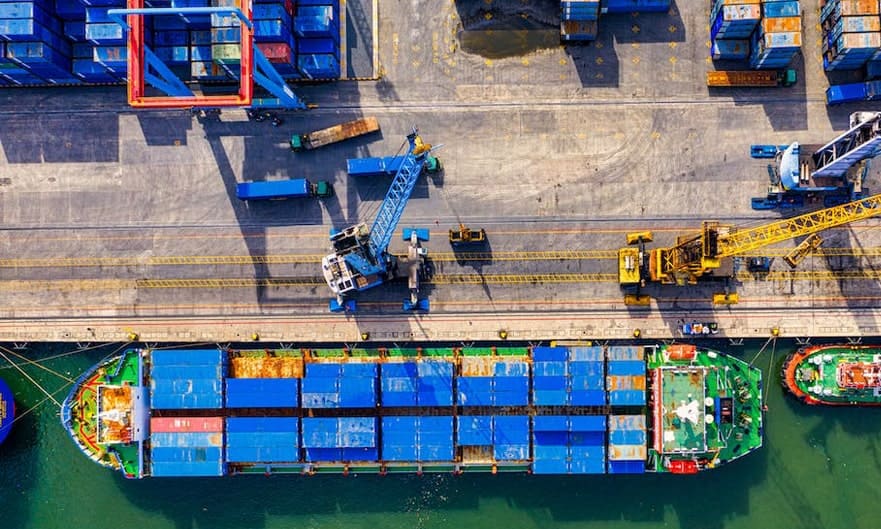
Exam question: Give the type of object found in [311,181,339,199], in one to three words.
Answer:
vehicle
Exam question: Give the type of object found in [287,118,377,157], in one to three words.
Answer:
truck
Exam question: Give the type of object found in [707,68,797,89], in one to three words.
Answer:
vehicle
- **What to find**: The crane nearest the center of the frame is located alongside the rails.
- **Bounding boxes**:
[322,133,468,311]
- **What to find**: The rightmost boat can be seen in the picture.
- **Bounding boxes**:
[777,344,881,407]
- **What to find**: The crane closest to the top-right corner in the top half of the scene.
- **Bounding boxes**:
[751,104,881,210]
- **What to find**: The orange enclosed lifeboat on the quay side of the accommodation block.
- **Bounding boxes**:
[662,345,698,363]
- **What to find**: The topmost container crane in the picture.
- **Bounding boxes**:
[114,0,317,113]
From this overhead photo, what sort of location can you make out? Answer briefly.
port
